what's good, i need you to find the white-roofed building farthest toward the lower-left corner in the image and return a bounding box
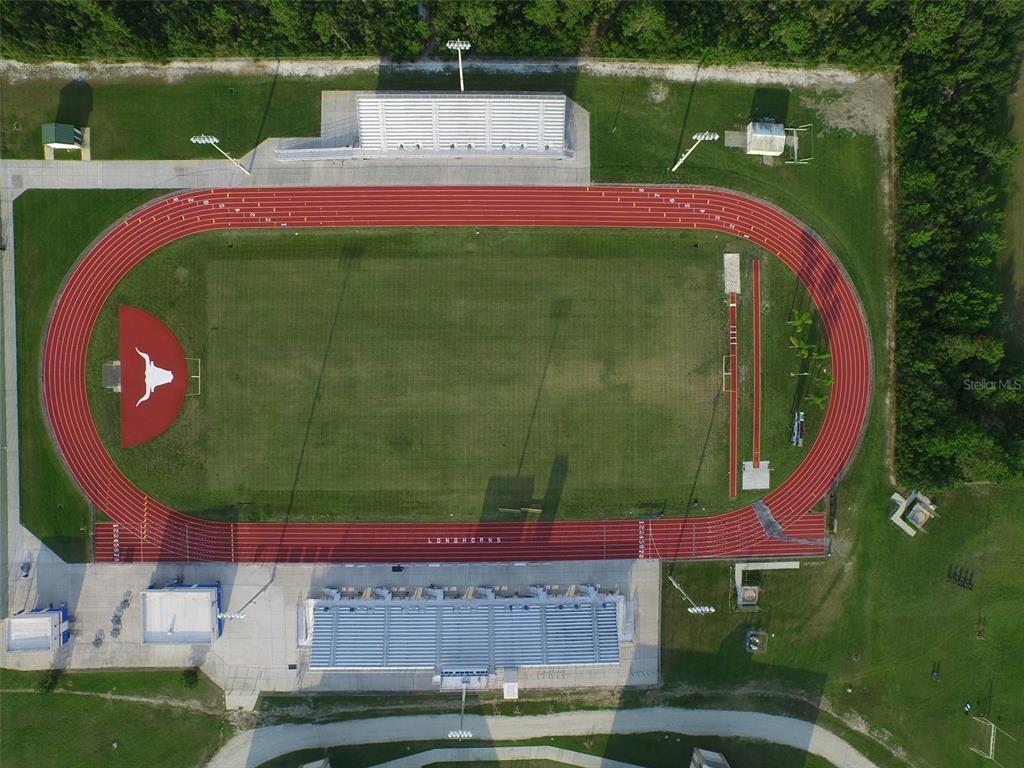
[7,608,72,652]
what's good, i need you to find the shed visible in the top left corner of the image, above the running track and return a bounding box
[43,121,81,148]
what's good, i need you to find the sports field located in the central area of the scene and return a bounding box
[206,259,706,490]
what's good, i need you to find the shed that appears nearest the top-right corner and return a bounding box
[747,120,786,155]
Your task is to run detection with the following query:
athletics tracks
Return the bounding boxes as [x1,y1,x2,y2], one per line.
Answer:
[42,183,873,687]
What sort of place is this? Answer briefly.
sports ground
